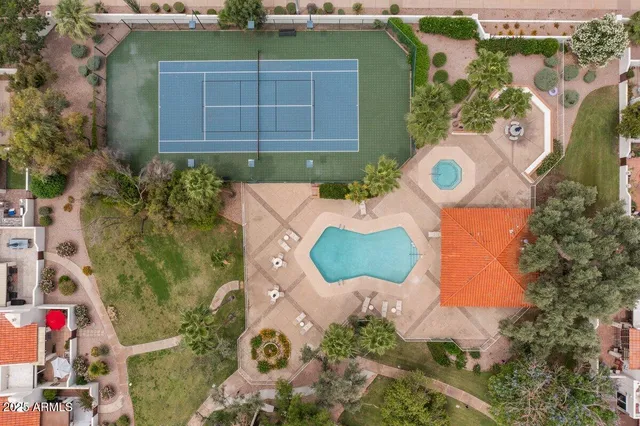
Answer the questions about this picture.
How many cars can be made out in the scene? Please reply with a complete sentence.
There are no cars in this view.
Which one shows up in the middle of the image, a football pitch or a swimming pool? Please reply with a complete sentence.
There is a swimming pool in the middle of the image.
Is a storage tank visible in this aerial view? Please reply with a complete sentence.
No, no storage tank is visible in the scene.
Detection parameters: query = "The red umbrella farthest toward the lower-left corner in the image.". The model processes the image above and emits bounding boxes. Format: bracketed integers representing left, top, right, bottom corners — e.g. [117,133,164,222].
[45,309,68,330]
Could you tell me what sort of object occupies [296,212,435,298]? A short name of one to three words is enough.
swimming pool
